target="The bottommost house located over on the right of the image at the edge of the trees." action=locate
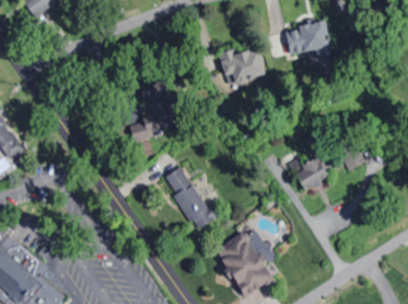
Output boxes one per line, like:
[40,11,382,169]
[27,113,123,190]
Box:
[221,230,275,296]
